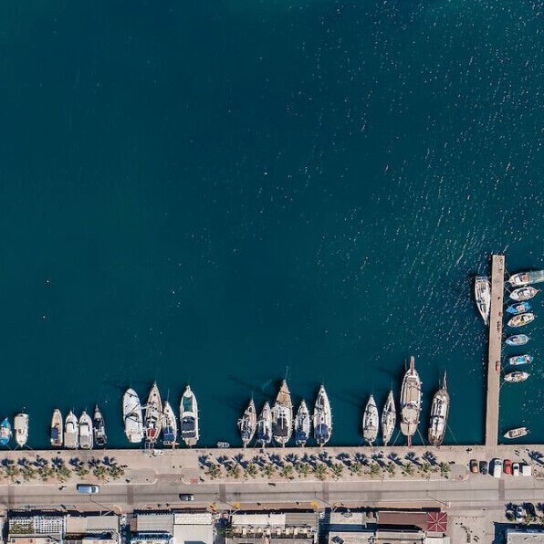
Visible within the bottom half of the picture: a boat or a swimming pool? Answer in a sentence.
There is a boat within the bottom half of the picture.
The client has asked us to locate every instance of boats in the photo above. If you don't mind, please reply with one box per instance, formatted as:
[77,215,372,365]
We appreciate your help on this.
[311,385,332,446]
[268,379,294,447]
[504,371,529,382]
[49,406,65,448]
[362,395,379,446]
[474,276,490,325]
[505,334,530,346]
[504,269,544,286]
[503,428,529,438]
[294,400,310,447]
[510,286,537,301]
[255,401,273,447]
[506,314,535,327]
[64,409,79,448]
[136,381,163,447]
[0,416,13,446]
[180,385,200,447]
[92,403,108,447]
[506,302,531,312]
[216,441,230,447]
[78,411,95,448]
[238,398,258,447]
[123,384,144,445]
[381,391,397,446]
[15,413,30,447]
[509,355,533,365]
[155,401,177,448]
